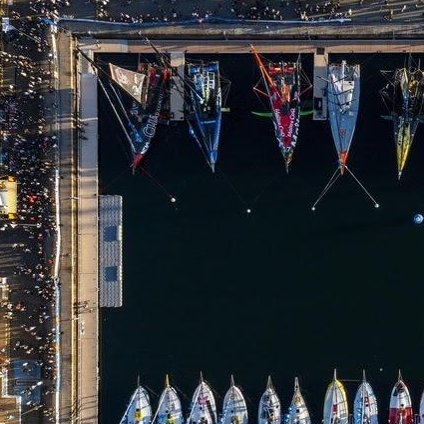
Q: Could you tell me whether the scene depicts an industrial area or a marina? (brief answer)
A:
marina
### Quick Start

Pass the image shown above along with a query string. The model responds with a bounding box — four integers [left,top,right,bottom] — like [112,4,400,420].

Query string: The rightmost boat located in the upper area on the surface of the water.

[376,49,424,180]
